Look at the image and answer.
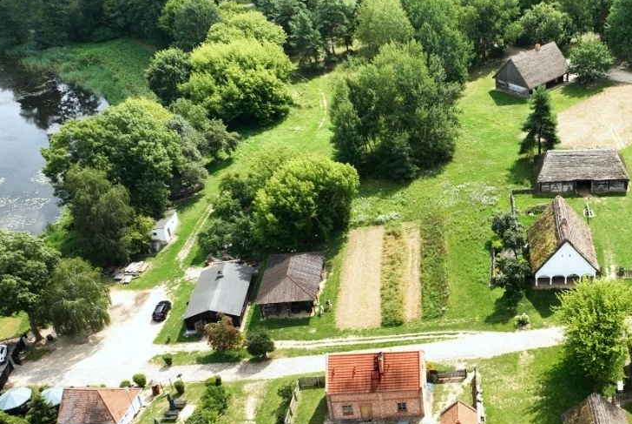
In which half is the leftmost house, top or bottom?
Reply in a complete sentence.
It is in the bottom half that the leftmost house appears.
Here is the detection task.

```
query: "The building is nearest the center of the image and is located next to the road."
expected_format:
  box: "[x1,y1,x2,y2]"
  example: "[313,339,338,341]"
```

[255,254,323,320]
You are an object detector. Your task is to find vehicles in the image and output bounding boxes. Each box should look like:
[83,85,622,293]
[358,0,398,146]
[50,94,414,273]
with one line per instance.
[148,300,173,320]
[0,342,13,359]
